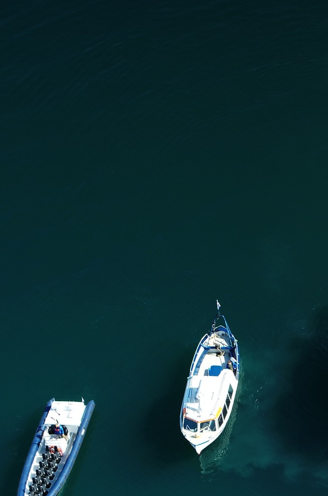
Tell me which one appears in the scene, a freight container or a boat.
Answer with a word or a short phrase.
boat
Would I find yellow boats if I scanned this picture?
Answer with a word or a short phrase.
No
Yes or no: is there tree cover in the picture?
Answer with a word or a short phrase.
No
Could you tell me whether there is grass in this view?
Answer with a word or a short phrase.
No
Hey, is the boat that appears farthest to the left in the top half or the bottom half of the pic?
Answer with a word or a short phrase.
bottom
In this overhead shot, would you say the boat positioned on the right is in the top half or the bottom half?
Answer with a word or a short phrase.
bottom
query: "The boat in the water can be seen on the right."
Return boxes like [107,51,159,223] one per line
[180,300,240,458]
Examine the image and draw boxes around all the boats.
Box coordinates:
[180,300,240,458]
[18,397,98,496]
